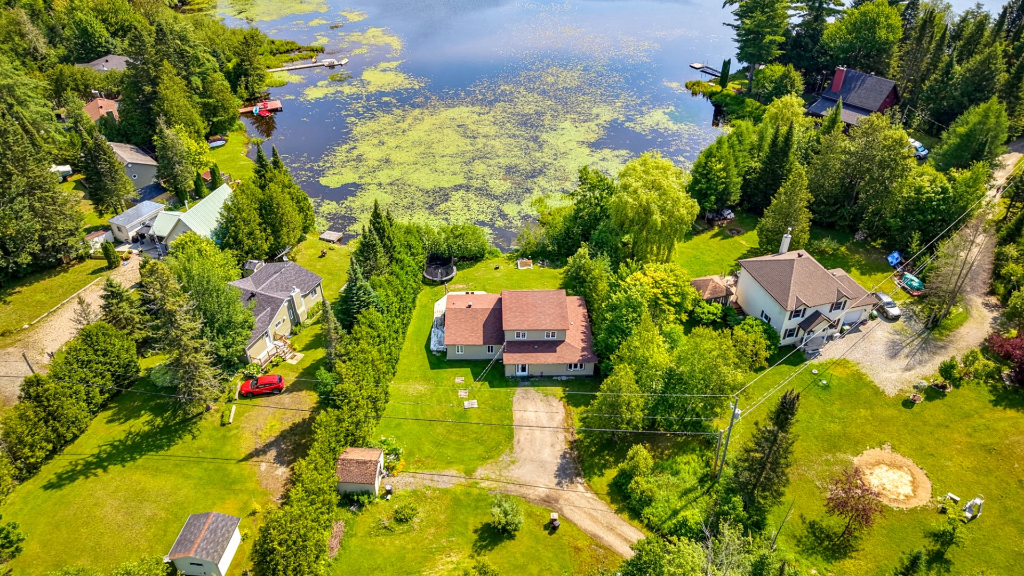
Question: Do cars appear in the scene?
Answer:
Yes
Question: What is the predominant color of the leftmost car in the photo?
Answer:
red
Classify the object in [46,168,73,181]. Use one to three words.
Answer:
boat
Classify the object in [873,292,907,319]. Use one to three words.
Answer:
car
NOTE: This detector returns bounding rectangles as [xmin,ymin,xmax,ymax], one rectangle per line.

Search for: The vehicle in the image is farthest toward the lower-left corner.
[239,373,284,397]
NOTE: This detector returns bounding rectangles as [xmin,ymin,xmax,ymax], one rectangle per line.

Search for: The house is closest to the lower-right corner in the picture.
[730,228,879,360]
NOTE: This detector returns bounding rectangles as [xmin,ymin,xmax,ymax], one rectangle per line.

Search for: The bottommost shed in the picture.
[162,511,241,576]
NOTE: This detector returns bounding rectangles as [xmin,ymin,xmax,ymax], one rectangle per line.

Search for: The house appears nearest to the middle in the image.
[443,290,598,383]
